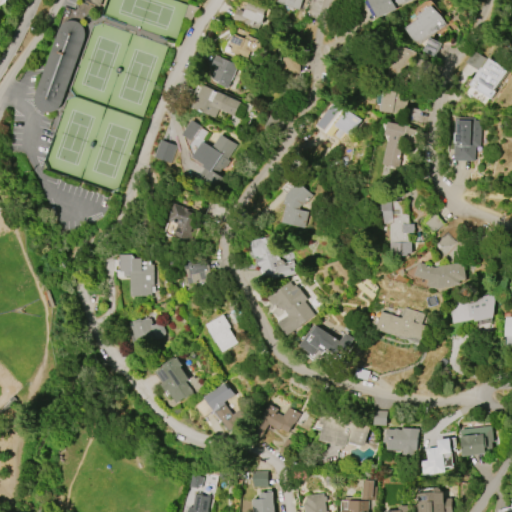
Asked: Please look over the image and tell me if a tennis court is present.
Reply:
Yes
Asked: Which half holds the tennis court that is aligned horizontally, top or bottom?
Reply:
top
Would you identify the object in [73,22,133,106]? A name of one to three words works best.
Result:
tennis court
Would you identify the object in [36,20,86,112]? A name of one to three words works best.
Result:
building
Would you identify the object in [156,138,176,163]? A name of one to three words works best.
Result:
house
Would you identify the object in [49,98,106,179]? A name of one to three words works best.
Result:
tennis court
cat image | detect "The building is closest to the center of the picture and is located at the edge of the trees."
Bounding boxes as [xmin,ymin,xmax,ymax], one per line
[252,238,296,277]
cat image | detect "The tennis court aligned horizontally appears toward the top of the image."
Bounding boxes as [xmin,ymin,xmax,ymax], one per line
[106,0,188,39]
